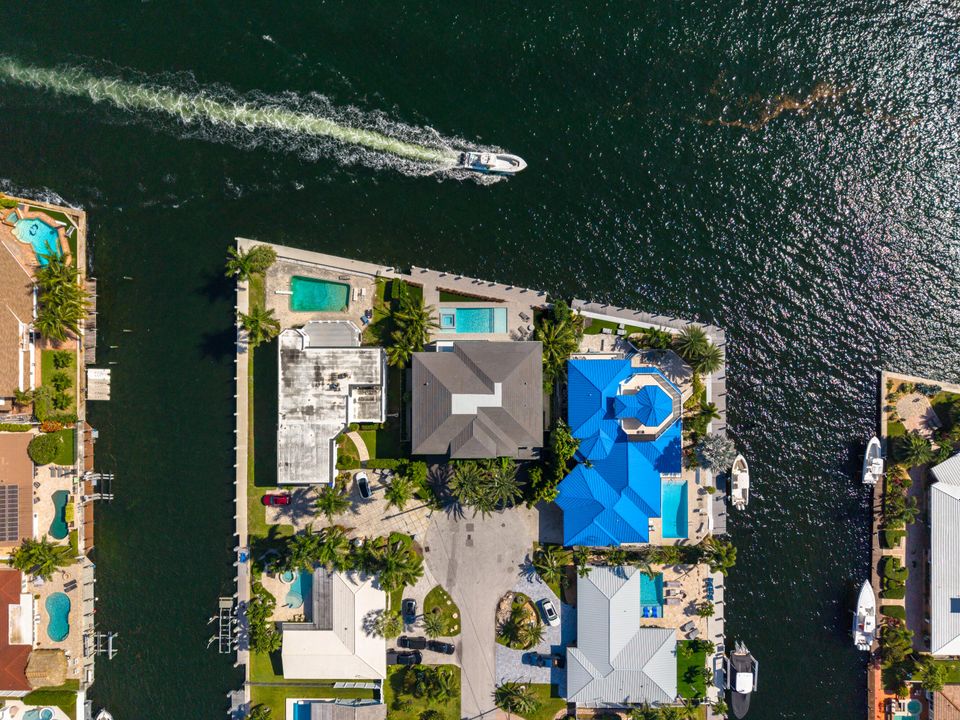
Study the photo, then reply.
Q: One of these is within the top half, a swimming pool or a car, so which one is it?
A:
swimming pool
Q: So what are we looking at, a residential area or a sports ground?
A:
residential area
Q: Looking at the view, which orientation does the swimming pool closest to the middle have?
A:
from left to right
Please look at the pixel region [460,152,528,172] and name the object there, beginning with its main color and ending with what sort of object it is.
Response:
white boat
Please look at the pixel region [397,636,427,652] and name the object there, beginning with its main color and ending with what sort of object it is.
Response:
black car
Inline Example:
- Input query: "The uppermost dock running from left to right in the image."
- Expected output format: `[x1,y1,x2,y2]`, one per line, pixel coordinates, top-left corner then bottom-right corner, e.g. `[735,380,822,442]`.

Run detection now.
[411,266,548,294]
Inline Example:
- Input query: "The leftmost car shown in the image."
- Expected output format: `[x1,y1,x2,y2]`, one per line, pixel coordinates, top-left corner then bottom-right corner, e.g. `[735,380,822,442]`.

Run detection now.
[262,493,290,508]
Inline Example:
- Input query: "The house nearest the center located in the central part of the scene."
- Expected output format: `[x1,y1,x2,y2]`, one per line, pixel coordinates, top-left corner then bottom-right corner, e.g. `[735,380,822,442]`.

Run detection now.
[412,339,543,459]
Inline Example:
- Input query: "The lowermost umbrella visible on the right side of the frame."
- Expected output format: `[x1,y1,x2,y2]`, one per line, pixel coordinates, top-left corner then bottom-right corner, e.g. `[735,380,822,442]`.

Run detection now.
[678,562,694,578]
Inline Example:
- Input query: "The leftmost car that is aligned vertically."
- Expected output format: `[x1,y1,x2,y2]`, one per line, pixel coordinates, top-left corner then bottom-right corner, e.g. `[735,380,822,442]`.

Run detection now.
[354,470,371,500]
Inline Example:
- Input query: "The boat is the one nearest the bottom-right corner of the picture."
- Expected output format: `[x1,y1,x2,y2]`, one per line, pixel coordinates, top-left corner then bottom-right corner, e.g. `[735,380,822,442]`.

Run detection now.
[852,578,877,652]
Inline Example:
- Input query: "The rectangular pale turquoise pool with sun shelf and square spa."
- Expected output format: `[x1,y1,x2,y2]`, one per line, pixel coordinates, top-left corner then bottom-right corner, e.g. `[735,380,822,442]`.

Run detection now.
[439,307,508,334]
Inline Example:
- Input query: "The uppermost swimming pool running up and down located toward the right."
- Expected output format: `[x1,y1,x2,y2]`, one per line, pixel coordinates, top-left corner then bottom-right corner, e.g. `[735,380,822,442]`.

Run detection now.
[660,478,689,540]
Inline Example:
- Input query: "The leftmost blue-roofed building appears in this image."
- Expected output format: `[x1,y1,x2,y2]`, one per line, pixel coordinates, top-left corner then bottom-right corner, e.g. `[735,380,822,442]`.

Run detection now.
[556,349,692,546]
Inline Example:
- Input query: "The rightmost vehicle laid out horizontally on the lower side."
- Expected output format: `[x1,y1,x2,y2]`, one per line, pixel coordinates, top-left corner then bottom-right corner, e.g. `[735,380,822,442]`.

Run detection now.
[524,652,562,668]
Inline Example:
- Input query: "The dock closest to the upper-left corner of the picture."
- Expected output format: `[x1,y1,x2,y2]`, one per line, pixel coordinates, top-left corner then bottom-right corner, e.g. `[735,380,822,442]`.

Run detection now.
[86,279,101,364]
